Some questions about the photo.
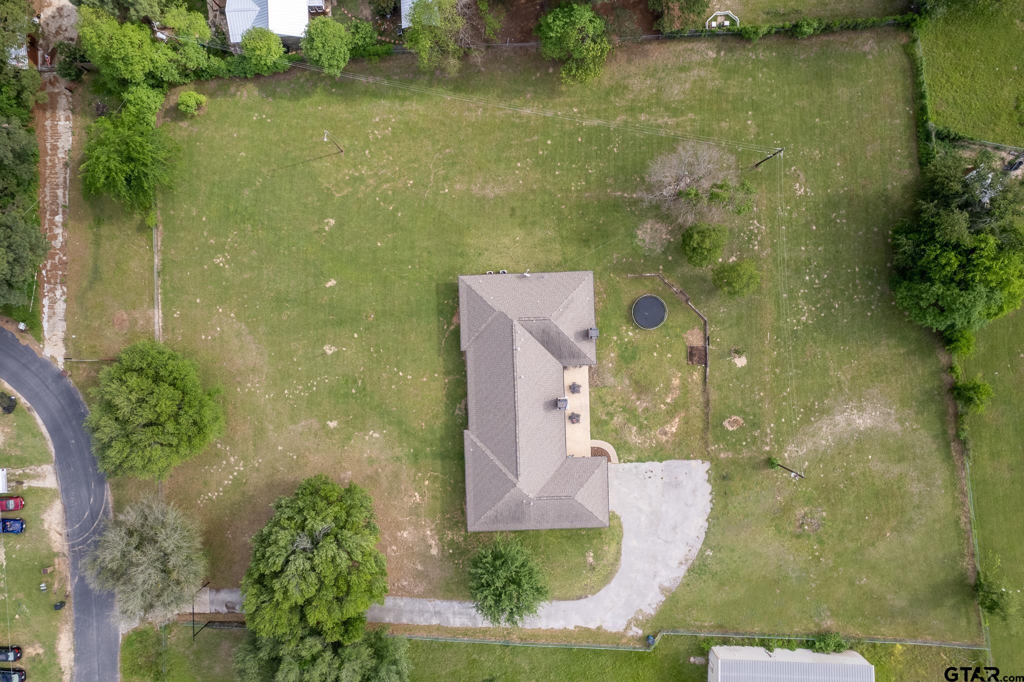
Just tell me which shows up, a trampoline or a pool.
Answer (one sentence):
There is a trampoline in the scene.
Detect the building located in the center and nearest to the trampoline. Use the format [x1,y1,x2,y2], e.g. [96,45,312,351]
[458,271,611,532]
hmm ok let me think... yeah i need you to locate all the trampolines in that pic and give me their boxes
[632,294,667,330]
